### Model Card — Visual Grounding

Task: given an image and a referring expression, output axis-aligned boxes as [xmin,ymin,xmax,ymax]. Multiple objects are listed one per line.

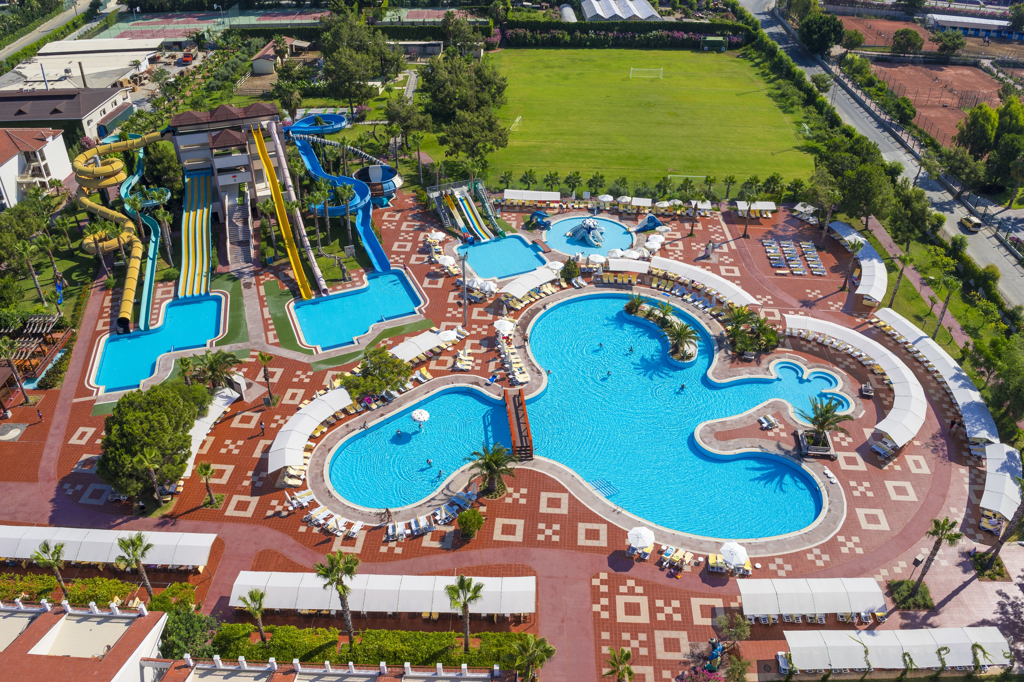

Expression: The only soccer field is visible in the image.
[488,48,827,204]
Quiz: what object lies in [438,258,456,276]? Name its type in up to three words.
umbrella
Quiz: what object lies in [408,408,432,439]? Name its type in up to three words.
fountain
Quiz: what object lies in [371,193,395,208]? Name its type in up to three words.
swimming pool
